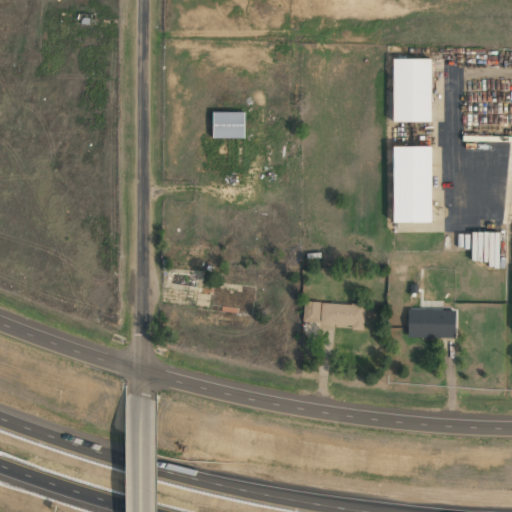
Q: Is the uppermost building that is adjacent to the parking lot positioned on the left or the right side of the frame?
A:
right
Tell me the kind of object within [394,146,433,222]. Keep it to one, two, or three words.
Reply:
building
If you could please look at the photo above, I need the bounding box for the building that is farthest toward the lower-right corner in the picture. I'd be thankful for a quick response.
[409,307,456,338]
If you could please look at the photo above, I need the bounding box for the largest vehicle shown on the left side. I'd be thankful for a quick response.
[157,460,198,476]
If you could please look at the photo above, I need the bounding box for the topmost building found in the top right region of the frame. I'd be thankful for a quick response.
[394,58,433,122]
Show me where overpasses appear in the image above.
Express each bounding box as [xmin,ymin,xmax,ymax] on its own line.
[114,384,158,512]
